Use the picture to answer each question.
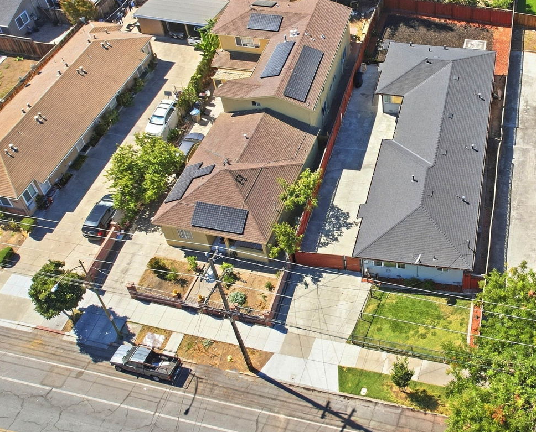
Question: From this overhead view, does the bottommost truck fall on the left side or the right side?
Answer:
left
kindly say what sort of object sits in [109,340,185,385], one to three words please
truck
